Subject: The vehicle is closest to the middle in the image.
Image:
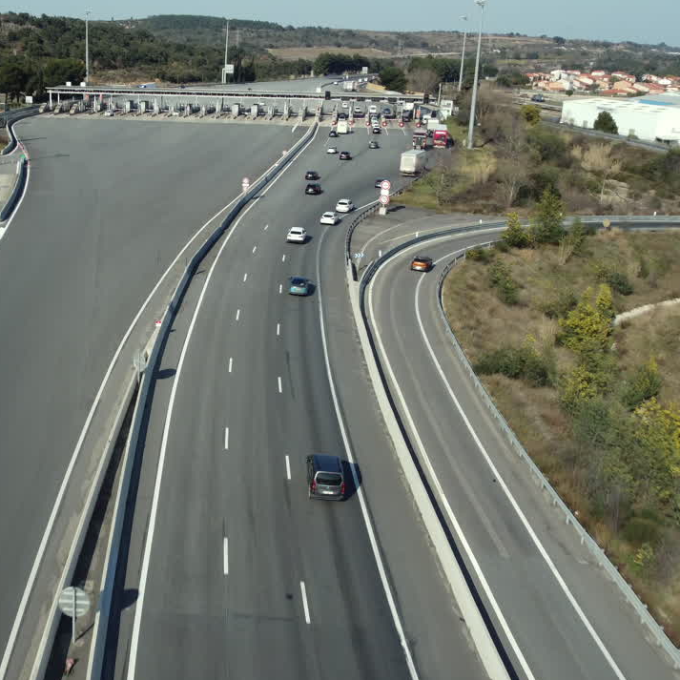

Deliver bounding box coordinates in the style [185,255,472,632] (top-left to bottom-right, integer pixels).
[288,273,310,292]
